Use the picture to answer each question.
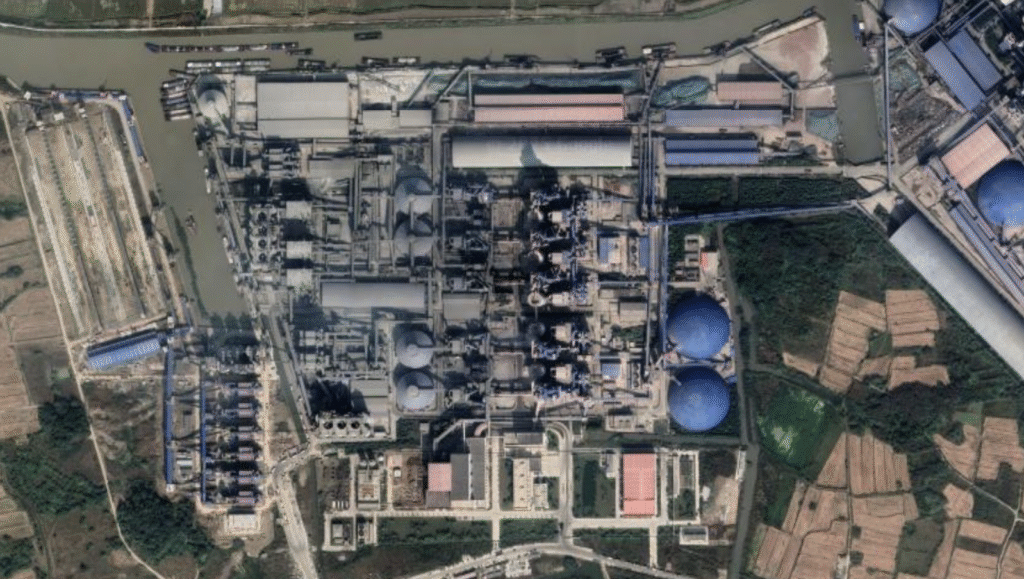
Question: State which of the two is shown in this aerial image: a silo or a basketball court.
silo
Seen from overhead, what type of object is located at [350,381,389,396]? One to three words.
building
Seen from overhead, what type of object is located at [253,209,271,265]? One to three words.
cooling tower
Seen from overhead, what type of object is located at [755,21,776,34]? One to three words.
ship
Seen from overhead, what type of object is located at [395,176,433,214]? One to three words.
silo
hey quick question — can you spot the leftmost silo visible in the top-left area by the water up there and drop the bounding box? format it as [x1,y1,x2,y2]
[199,85,229,115]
